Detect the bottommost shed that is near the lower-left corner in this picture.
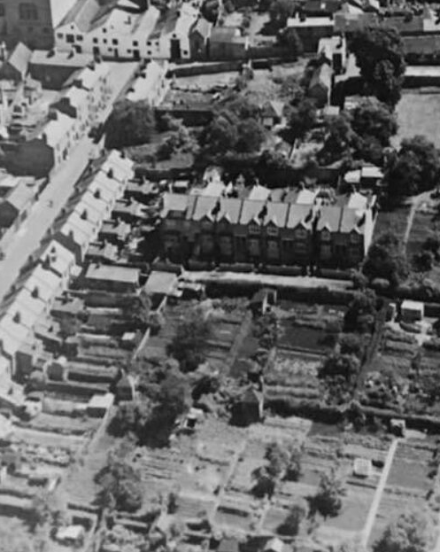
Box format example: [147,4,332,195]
[54,509,90,547]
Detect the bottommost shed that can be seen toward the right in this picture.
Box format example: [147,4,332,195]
[260,525,290,552]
